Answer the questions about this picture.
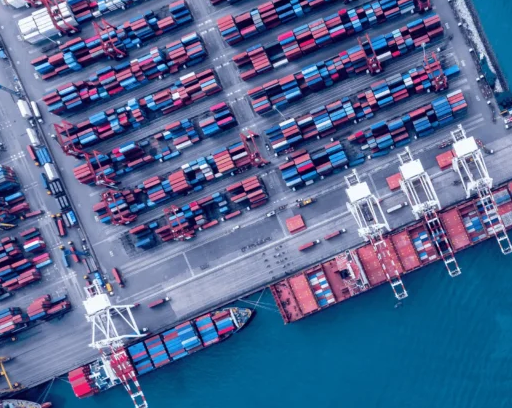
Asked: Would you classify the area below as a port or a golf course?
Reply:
port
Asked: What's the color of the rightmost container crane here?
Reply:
white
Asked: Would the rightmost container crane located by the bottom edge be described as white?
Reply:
Yes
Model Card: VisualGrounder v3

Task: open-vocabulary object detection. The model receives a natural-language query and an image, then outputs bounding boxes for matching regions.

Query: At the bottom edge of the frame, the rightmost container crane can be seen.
[76,277,151,408]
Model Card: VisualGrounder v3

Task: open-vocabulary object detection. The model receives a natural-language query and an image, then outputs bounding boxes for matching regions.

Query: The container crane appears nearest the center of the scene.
[236,129,270,170]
